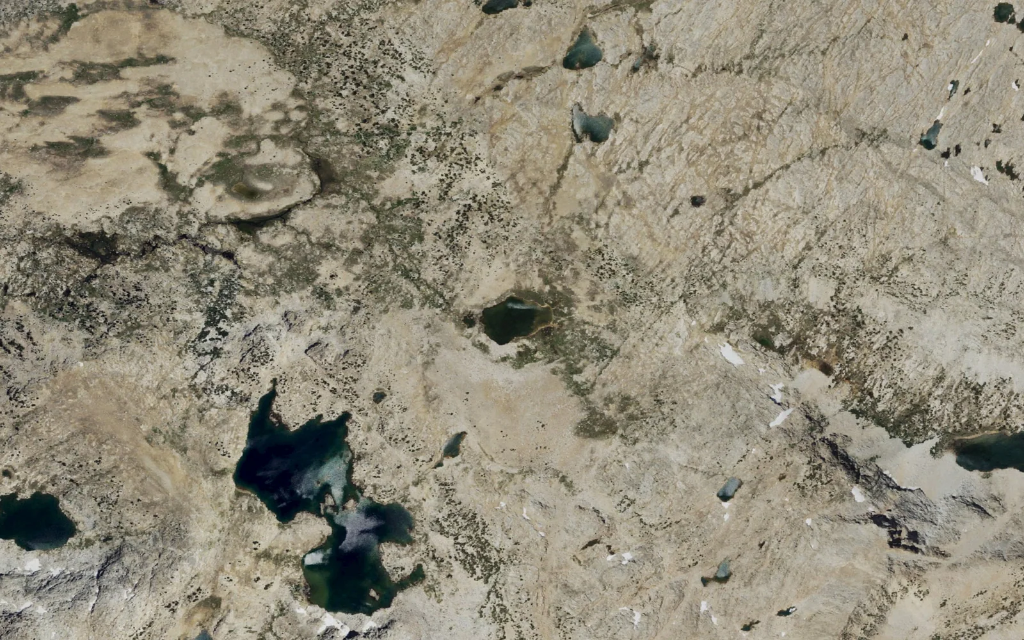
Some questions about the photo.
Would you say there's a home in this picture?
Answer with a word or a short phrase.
No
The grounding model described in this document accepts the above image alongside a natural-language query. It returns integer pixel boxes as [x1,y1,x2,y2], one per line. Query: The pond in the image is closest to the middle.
[480,296,553,345]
